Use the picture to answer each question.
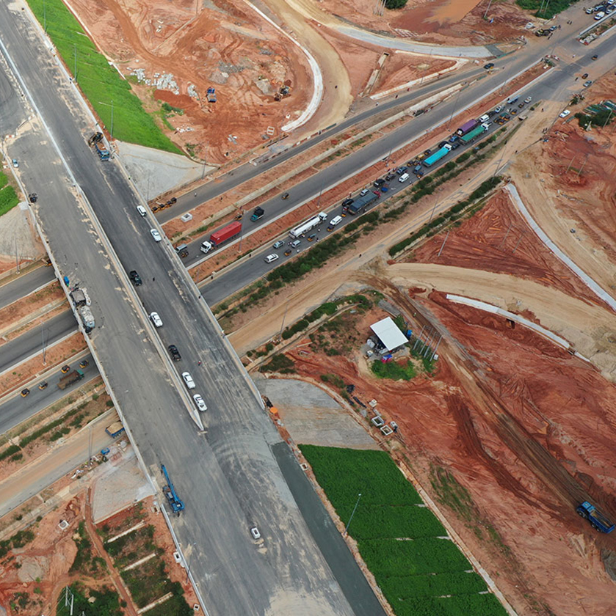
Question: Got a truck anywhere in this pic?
Yes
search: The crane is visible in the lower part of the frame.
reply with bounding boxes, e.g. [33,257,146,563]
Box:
[164,462,190,522]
